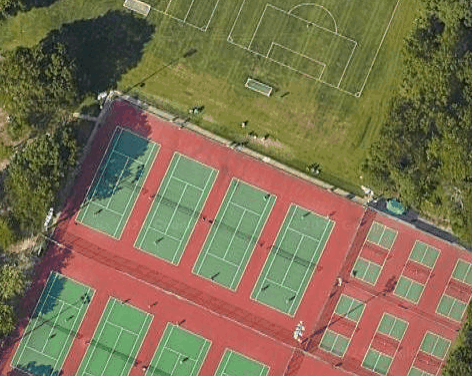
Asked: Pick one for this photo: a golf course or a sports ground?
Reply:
sports ground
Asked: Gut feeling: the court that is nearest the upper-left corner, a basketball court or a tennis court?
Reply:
tennis court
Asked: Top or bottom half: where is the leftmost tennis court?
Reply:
bottom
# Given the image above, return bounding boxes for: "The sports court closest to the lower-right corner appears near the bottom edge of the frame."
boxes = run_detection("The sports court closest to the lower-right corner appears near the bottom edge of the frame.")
[408,332,451,376]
